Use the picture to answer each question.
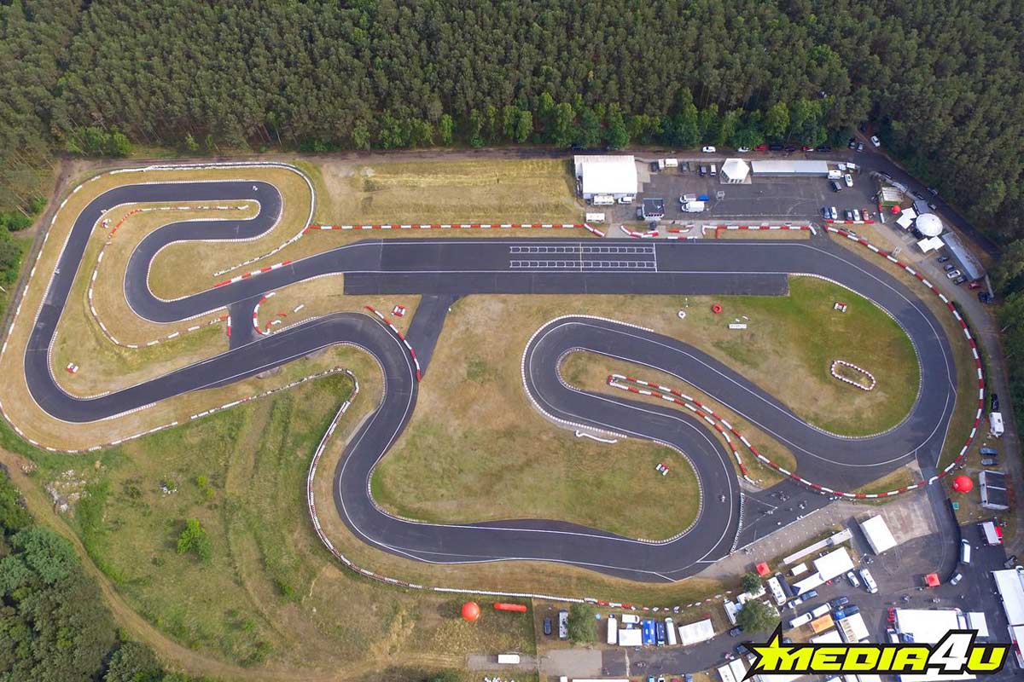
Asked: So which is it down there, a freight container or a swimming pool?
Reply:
freight container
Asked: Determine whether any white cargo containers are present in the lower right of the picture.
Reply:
Yes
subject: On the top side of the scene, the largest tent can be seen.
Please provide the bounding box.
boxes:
[910,214,941,242]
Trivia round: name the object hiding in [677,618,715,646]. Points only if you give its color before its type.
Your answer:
white tent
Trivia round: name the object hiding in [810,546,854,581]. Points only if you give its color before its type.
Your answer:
white tent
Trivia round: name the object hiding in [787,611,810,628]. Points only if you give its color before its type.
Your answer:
white vehicle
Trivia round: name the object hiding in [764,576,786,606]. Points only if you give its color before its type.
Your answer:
white camper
